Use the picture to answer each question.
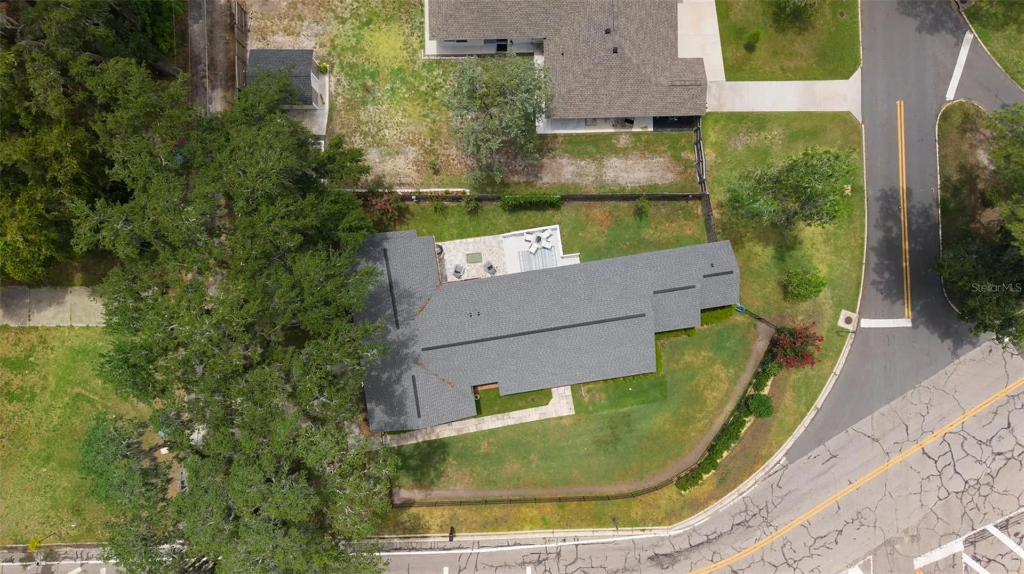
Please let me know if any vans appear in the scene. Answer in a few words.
No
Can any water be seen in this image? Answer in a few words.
No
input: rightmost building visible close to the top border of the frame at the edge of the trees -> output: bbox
[427,0,707,120]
